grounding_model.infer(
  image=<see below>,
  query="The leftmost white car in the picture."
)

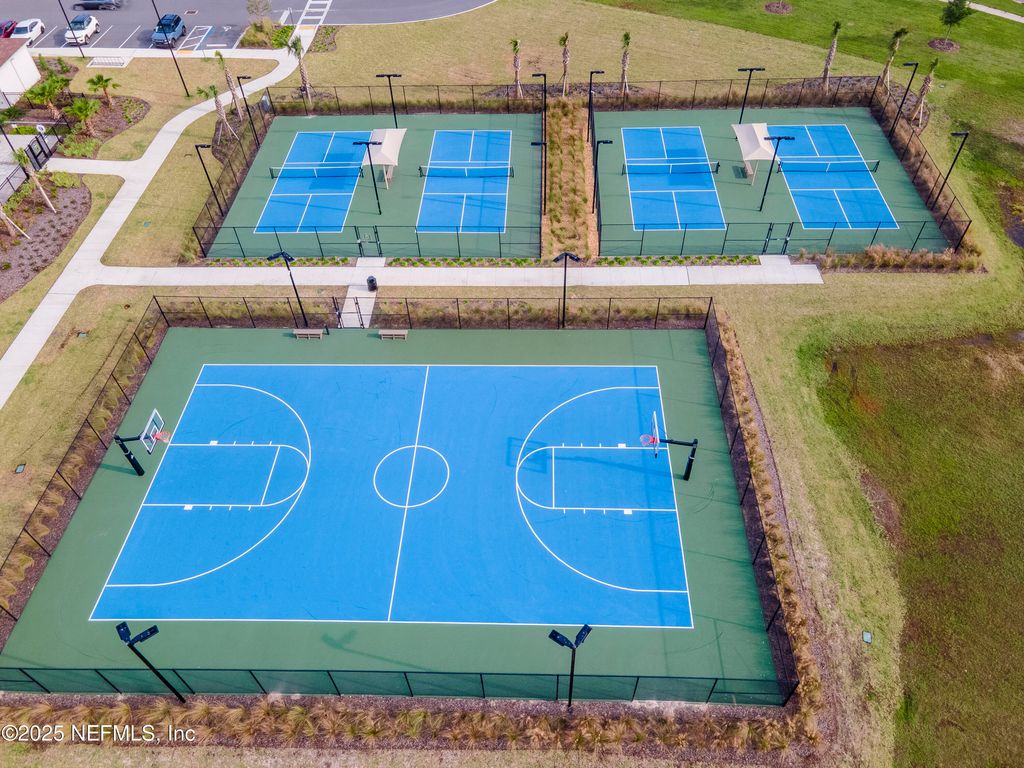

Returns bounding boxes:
[7,18,43,44]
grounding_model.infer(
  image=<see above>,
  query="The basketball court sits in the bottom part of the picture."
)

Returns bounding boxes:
[0,327,784,706]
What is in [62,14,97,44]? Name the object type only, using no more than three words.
car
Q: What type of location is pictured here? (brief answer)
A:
sports ground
